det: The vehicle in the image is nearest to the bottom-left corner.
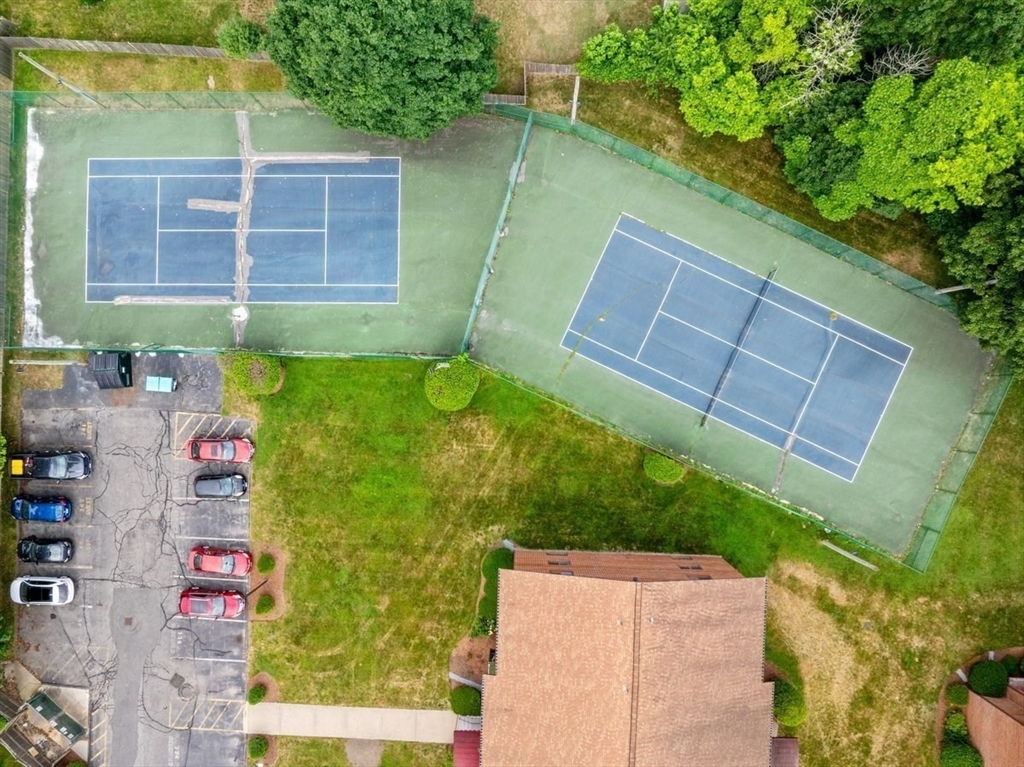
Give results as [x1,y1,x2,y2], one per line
[11,576,77,608]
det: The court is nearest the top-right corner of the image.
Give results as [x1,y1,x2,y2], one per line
[468,124,991,555]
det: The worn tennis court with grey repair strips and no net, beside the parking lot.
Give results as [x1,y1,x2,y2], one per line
[21,106,528,357]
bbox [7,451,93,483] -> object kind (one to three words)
truck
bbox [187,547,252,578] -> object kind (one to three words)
car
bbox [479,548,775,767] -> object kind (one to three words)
building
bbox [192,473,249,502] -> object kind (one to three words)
car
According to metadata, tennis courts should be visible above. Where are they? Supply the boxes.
[21,106,528,357]
[468,124,991,555]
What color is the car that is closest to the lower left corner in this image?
white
